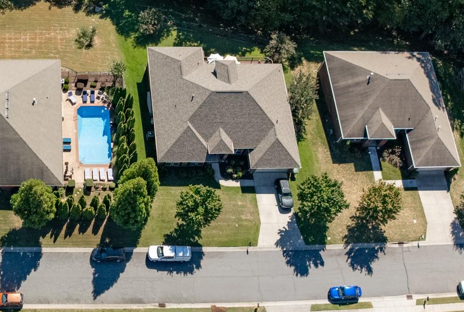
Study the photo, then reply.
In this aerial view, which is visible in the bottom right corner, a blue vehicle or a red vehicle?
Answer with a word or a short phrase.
blue vehicle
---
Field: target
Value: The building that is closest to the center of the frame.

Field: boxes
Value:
[147,47,301,173]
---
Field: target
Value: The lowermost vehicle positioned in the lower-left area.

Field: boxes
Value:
[0,289,24,308]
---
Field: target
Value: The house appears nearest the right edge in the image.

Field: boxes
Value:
[320,52,462,173]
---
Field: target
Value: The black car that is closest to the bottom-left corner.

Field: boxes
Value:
[91,245,125,262]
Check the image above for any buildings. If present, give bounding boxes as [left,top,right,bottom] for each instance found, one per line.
[320,52,462,173]
[0,59,64,191]
[147,47,301,173]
